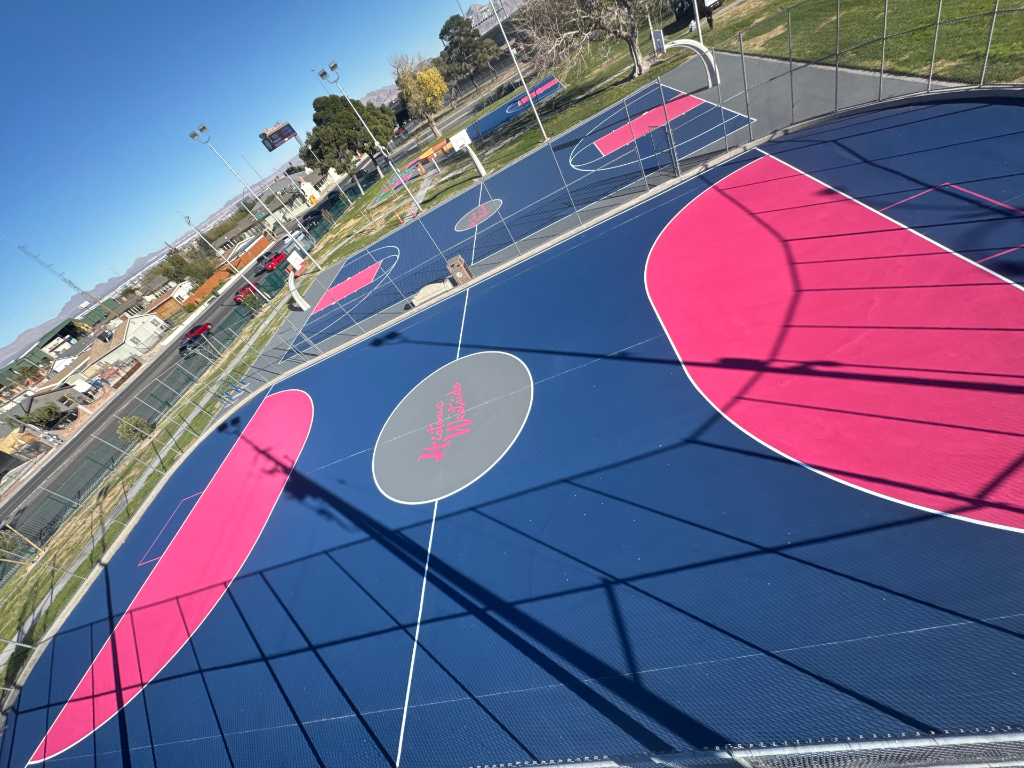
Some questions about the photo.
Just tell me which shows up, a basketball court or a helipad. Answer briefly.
basketball court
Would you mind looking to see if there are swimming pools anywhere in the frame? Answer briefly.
No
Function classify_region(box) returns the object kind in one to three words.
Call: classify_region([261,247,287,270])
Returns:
car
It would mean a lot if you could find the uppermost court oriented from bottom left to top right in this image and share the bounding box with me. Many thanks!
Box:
[470,75,563,140]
